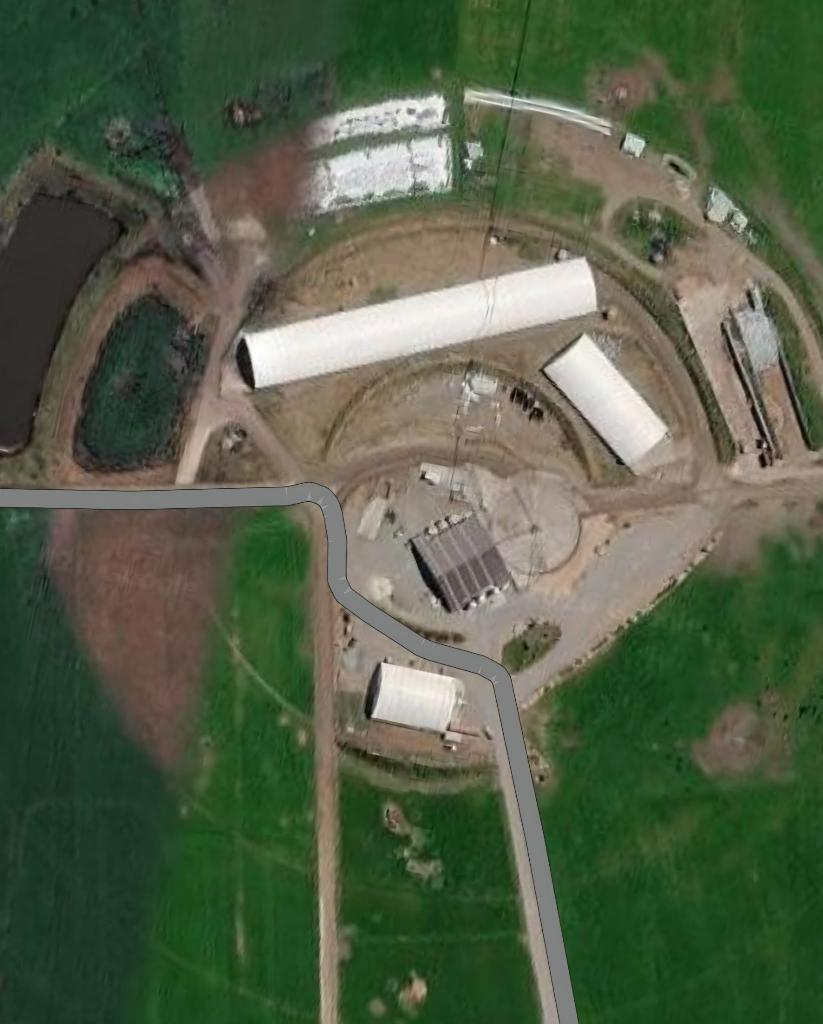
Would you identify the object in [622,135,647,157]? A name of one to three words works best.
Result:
shed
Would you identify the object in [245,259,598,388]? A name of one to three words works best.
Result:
barn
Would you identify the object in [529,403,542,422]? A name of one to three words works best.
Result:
vehicle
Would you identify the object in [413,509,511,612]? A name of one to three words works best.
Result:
building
